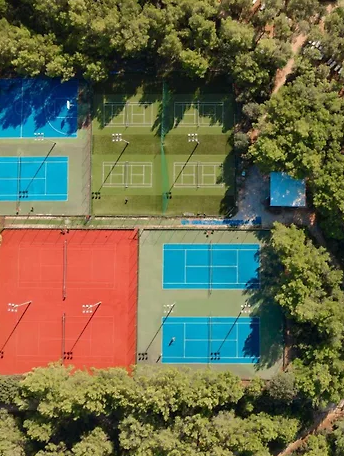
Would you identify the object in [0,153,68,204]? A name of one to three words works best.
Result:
tennis court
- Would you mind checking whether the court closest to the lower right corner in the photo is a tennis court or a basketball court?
tennis court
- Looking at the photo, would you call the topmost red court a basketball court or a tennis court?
tennis court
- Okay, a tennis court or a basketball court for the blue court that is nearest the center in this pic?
tennis court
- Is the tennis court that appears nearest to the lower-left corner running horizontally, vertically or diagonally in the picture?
horizontally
